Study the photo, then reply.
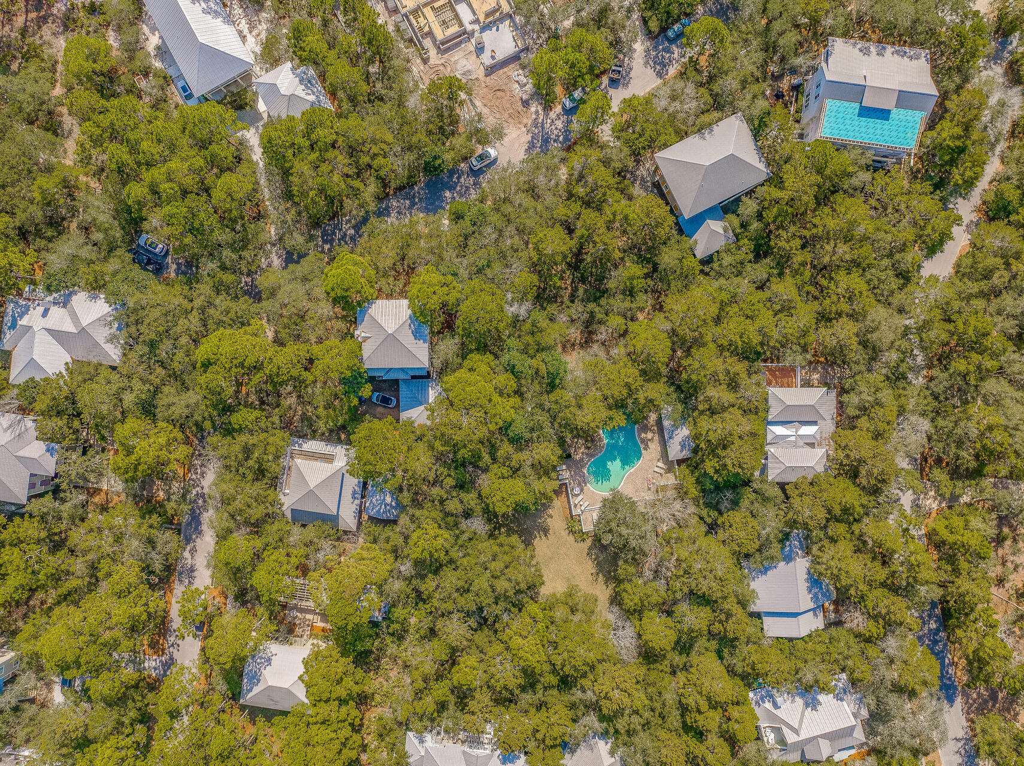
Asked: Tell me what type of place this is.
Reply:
residential area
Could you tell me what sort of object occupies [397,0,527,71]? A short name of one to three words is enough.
house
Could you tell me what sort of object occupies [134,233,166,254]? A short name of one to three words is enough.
car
